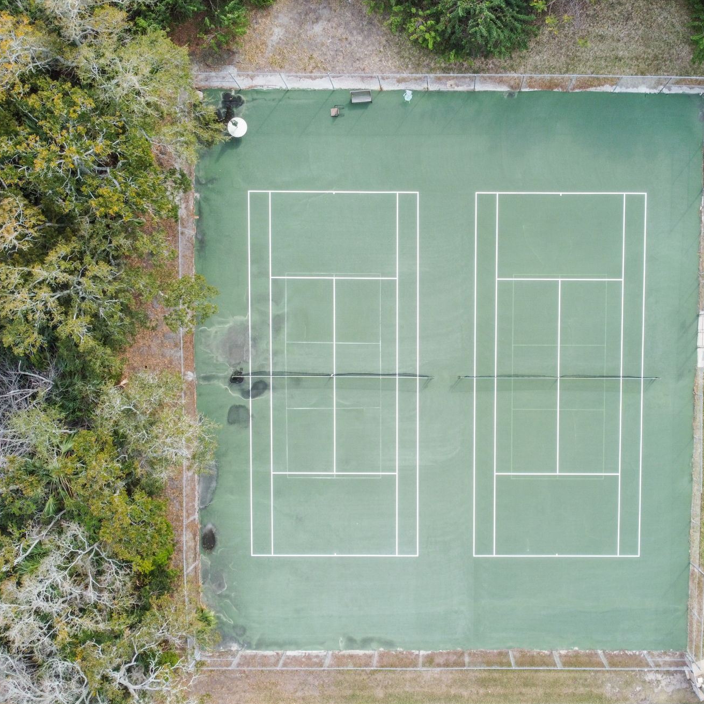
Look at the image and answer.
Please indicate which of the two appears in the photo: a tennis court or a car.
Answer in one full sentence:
Looking from above, you can make out a tennis court.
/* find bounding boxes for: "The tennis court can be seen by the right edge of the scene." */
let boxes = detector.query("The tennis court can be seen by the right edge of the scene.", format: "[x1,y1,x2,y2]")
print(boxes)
[472,90,704,652]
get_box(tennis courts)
[194,89,475,652]
[472,90,704,652]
